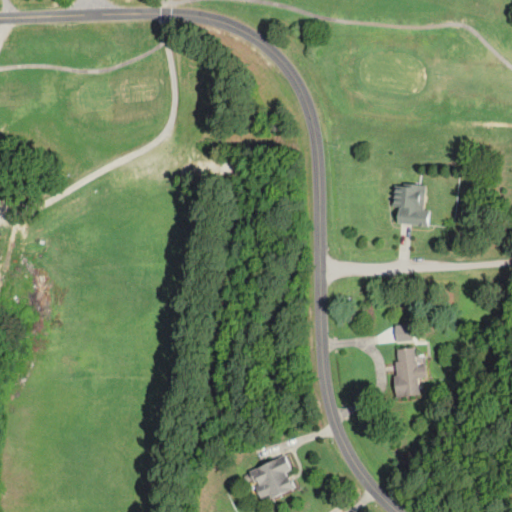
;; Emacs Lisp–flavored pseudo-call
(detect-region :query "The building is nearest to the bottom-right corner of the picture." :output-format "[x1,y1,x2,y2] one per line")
[392,346,428,398]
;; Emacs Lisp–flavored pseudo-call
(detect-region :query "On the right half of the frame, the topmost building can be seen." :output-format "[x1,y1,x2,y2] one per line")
[392,183,432,227]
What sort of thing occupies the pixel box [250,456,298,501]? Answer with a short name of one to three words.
house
